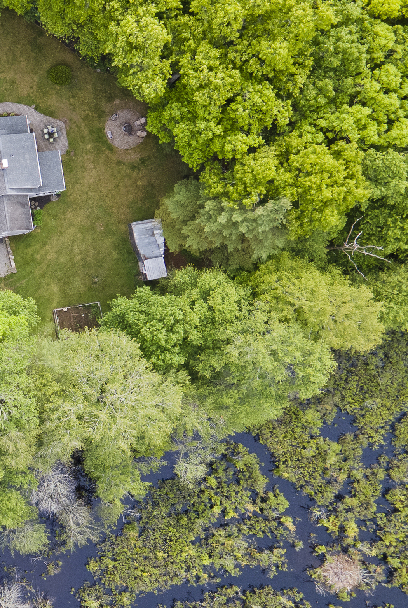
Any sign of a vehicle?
No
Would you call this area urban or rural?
rural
